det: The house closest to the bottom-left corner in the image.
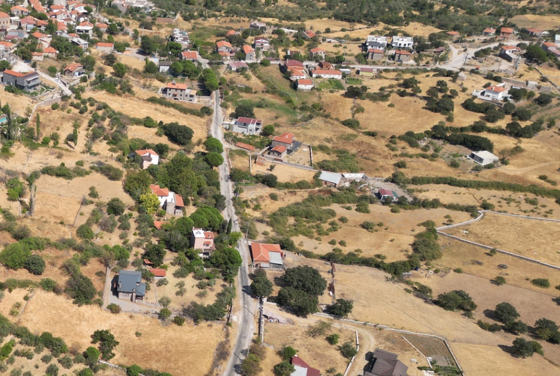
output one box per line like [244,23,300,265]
[116,269,156,301]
